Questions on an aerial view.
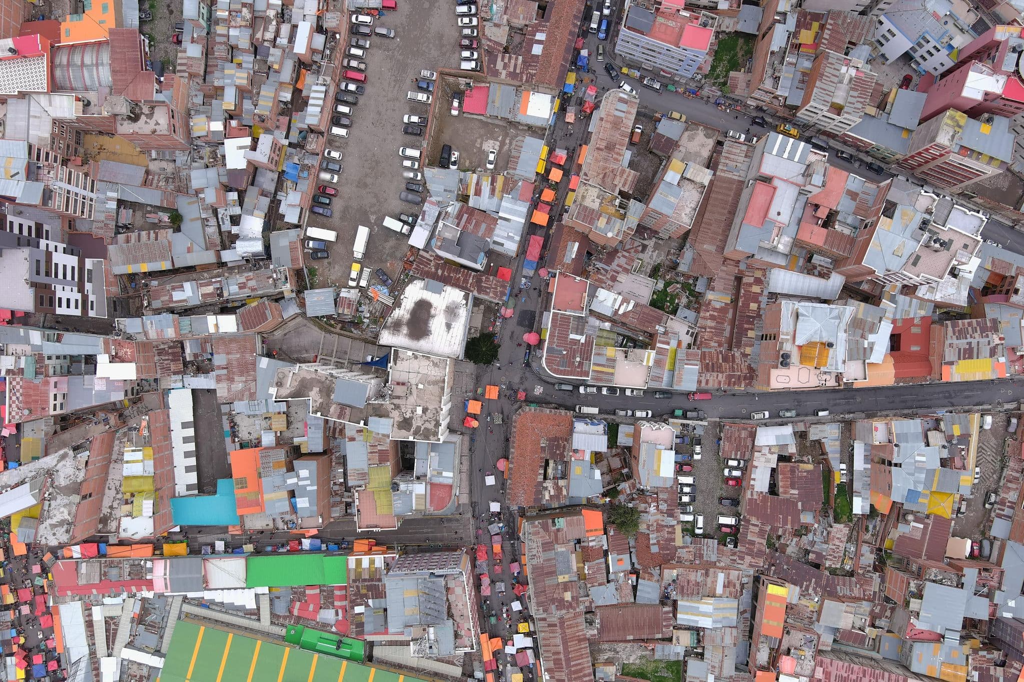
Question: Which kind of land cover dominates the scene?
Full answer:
What you mostly see from above here is buildings.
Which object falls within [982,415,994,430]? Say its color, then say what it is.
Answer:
white vehicle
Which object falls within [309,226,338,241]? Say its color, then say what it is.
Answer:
white vehicle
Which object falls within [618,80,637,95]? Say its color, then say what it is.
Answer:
white car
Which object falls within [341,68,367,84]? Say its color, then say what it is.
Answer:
red vehicle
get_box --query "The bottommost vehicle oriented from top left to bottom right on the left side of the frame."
[374,267,394,288]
